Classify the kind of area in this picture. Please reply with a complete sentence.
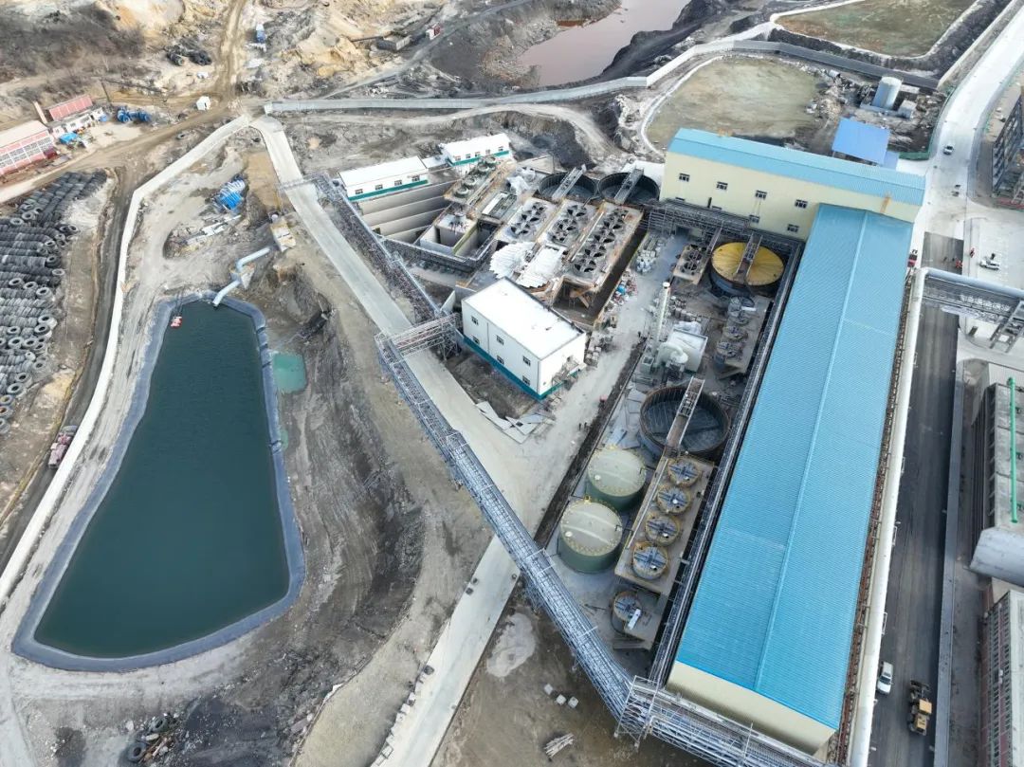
What you see here is an industrial area.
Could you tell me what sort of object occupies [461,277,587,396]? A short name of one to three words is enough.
building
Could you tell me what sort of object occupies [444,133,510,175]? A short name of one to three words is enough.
shed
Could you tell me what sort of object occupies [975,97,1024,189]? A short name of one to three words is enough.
building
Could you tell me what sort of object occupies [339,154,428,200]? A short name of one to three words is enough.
shed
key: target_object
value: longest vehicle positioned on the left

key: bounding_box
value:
[44,433,69,462]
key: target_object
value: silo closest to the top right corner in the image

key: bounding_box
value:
[874,77,905,109]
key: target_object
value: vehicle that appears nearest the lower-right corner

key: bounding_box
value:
[904,675,933,735]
